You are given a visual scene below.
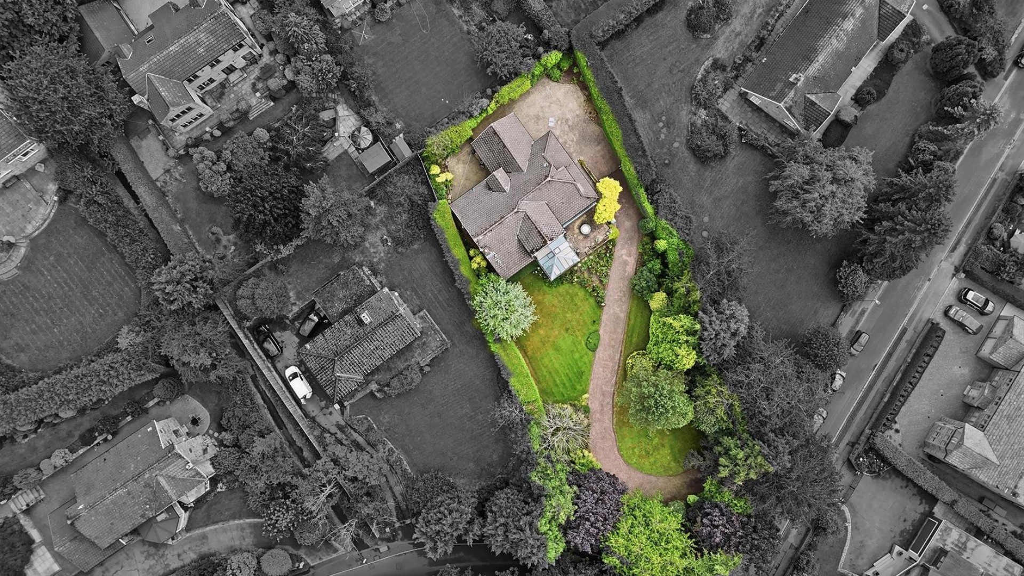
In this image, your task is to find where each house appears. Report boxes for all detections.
[48,419,223,573]
[319,0,368,23]
[861,511,1024,576]
[297,265,420,404]
[117,0,256,130]
[997,229,1024,257]
[0,109,48,181]
[737,0,916,134]
[925,369,1024,508]
[450,112,599,280]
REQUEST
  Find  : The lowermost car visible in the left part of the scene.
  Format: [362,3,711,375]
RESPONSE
[282,363,317,405]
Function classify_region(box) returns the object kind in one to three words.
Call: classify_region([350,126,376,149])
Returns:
gazebo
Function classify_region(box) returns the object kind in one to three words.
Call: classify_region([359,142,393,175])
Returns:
shed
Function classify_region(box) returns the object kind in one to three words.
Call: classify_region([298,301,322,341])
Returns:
car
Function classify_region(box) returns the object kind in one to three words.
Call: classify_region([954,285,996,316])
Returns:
car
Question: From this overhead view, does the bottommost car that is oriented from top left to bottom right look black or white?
white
